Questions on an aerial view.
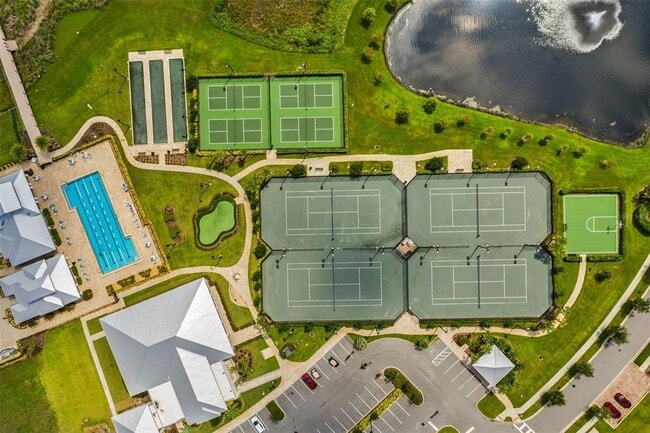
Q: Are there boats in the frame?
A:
No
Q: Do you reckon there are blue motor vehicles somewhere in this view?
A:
No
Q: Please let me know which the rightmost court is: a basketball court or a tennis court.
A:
basketball court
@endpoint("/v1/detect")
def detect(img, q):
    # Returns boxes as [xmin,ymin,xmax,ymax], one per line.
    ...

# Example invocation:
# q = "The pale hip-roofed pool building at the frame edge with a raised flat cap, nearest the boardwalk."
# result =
[0,170,60,267]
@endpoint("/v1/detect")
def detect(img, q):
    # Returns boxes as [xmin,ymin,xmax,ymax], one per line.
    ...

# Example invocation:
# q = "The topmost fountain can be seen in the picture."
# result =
[514,0,625,62]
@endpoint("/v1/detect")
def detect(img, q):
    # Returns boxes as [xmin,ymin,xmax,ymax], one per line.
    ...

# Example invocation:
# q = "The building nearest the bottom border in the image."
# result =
[112,403,162,433]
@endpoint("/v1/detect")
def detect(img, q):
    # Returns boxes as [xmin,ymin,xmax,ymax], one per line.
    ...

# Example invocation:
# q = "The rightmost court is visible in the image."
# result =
[564,194,619,253]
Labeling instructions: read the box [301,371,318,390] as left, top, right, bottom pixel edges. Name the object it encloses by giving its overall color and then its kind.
red car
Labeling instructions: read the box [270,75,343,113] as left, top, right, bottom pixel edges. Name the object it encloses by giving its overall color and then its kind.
green sports court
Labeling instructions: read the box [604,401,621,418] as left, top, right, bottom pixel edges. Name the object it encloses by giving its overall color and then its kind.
red car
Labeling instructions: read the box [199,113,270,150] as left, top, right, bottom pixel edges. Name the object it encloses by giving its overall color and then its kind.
green sports court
